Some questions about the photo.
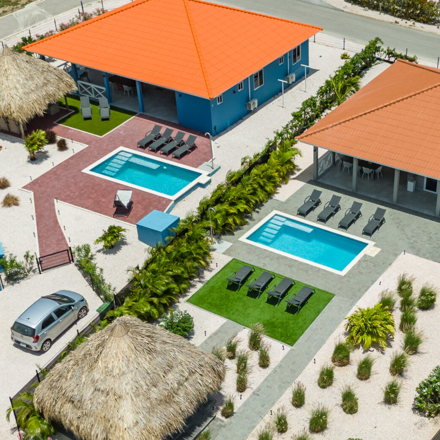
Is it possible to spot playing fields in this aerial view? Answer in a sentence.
No, I find no playing field anywhere in the image.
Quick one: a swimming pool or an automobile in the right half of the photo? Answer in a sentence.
Visible in the right half of the photo is a swimming pool.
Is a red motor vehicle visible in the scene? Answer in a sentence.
No, there appears to be no red motor vehicle in this shot.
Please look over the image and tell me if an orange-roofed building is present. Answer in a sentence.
Yes, I can see an orange-roofed building in this picture.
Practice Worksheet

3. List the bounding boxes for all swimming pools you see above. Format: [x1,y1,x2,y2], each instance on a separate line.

[82,146,216,207]
[240,210,373,276]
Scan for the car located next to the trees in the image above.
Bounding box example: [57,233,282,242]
[11,296,88,351]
